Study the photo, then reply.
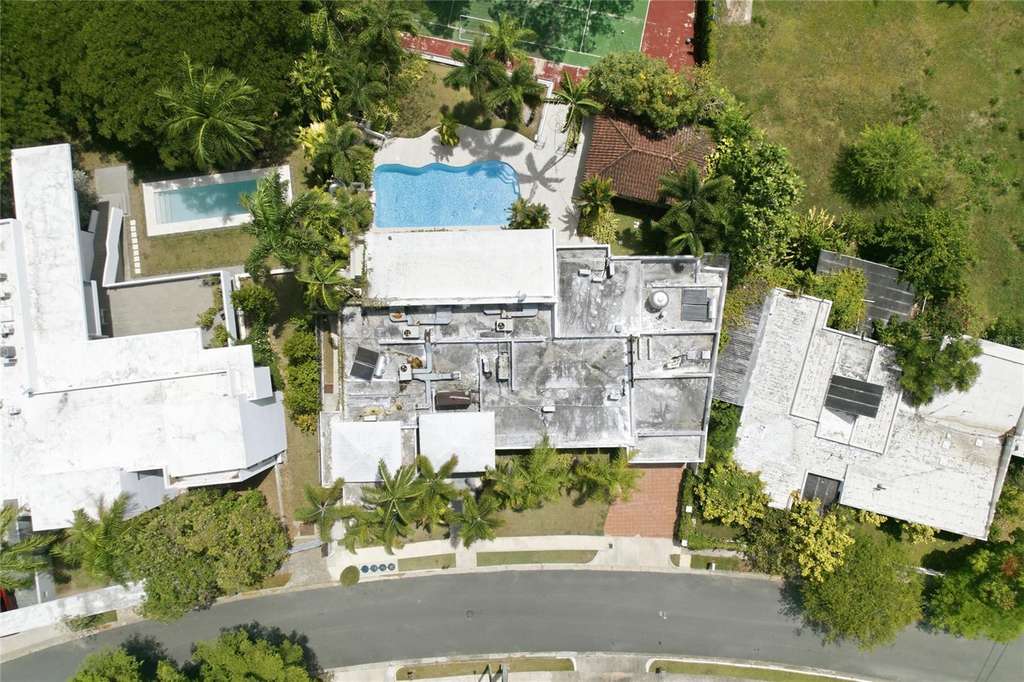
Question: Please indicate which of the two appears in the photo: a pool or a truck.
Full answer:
There is a pool in the scene.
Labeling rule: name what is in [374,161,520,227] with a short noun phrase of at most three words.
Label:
swimming pool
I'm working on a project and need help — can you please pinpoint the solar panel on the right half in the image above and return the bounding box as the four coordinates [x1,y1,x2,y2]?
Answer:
[820,374,889,419]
